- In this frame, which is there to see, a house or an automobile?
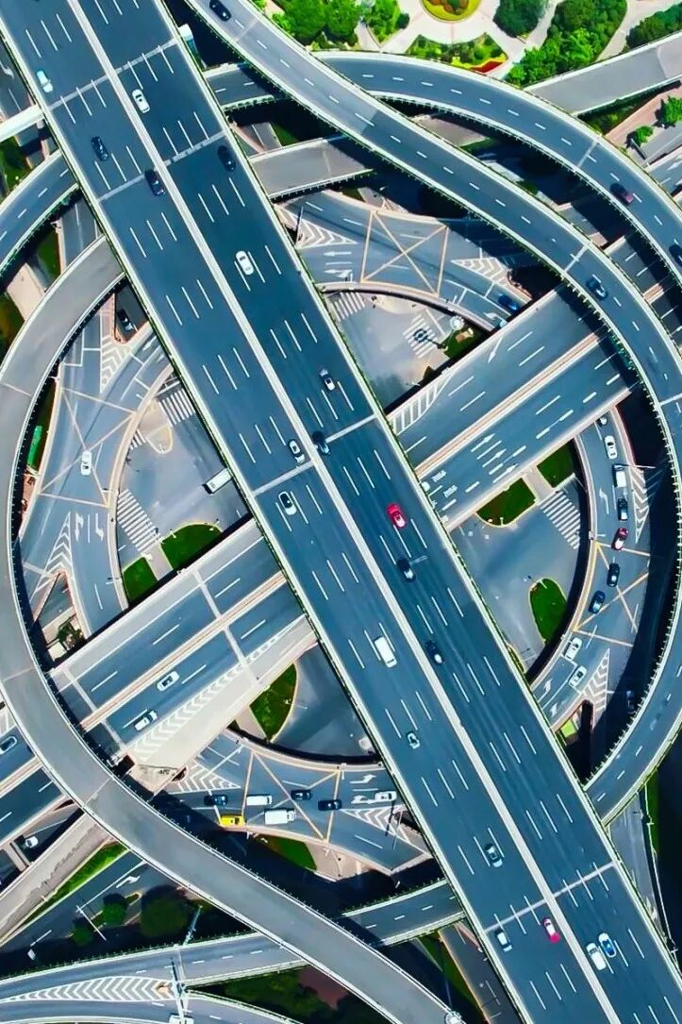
automobile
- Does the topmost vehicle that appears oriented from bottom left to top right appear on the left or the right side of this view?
left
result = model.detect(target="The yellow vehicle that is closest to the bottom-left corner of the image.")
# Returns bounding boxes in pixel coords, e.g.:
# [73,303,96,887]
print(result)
[221,814,246,826]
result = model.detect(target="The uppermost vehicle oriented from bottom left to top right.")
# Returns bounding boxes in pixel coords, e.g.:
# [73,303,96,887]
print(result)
[199,468,232,494]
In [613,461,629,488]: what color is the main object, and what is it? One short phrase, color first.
white vehicle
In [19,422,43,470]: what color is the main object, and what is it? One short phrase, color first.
green bus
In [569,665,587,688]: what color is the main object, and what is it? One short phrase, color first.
white car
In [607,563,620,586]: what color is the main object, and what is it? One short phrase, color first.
black vehicle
